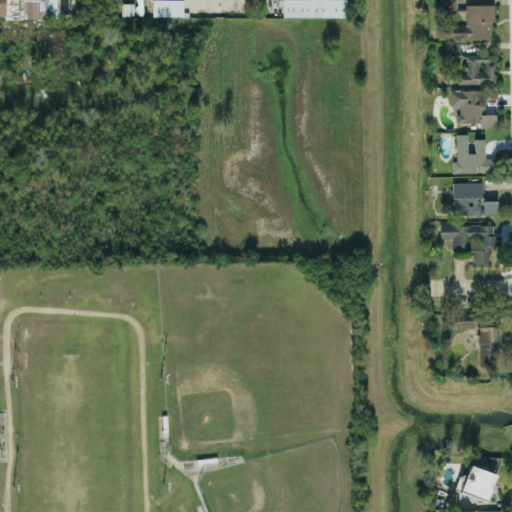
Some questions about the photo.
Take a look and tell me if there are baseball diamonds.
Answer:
Yes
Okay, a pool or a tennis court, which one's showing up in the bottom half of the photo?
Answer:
pool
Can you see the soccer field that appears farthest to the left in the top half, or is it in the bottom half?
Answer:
bottom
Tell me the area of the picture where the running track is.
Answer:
bottom left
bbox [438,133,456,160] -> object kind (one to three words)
swimming pool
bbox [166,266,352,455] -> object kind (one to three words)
baseball field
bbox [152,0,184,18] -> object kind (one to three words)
shed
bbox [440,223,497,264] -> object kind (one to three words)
house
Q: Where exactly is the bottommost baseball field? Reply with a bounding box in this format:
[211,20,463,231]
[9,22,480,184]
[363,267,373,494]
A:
[214,433,340,512]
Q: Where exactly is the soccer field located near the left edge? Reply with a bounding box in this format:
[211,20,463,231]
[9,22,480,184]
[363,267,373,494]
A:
[22,341,125,512]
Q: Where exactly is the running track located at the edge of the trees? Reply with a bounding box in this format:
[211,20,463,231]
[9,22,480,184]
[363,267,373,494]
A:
[2,306,152,512]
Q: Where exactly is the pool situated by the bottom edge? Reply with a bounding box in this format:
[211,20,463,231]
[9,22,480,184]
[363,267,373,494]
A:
[437,462,460,488]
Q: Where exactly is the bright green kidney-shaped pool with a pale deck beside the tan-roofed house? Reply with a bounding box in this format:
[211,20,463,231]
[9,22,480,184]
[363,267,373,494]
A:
[434,95,456,131]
